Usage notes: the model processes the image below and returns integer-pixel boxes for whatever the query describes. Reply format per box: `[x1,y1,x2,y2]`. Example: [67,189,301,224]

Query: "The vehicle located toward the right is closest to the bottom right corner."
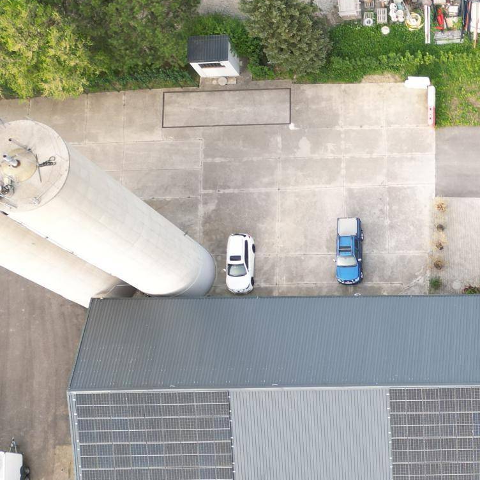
[333,215,365,286]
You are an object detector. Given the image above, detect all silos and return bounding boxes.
[0,208,134,306]
[0,111,214,294]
